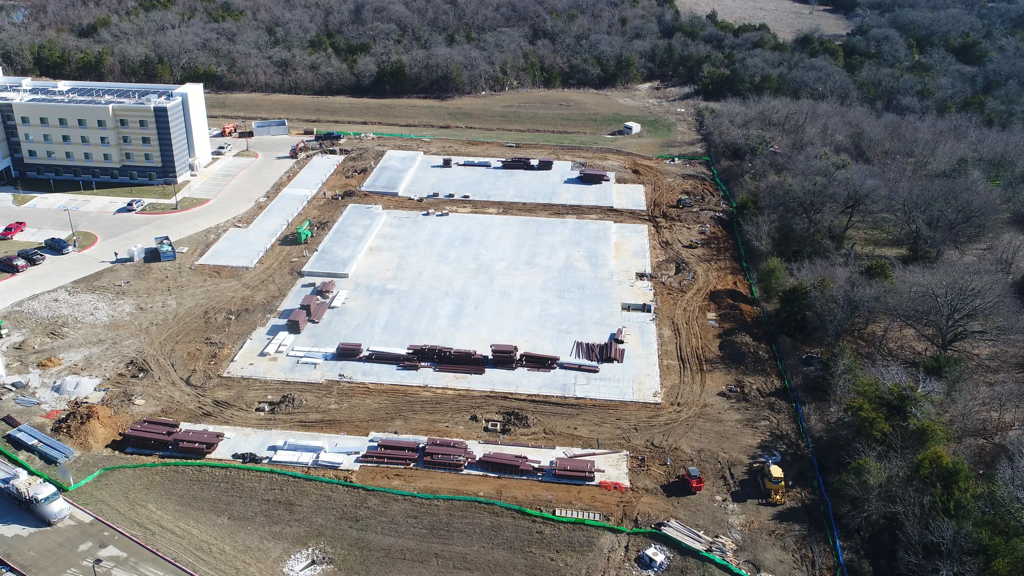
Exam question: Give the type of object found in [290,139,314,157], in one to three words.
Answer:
work vehicle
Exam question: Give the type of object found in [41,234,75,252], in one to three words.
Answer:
vehicle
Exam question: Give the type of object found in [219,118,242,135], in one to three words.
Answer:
work vehicle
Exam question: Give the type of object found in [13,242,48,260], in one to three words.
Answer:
vehicle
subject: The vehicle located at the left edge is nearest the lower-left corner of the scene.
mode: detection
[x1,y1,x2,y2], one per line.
[0,468,65,518]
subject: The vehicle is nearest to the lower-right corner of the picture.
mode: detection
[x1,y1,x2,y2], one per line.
[752,458,788,510]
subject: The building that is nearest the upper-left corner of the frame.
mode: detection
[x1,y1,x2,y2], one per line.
[0,69,209,183]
